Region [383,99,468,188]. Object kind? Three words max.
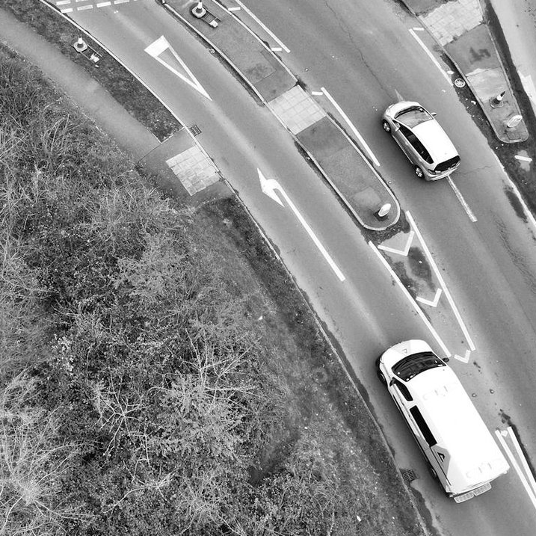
car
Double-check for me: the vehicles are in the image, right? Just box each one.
[377,346,509,511]
[383,99,468,188]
